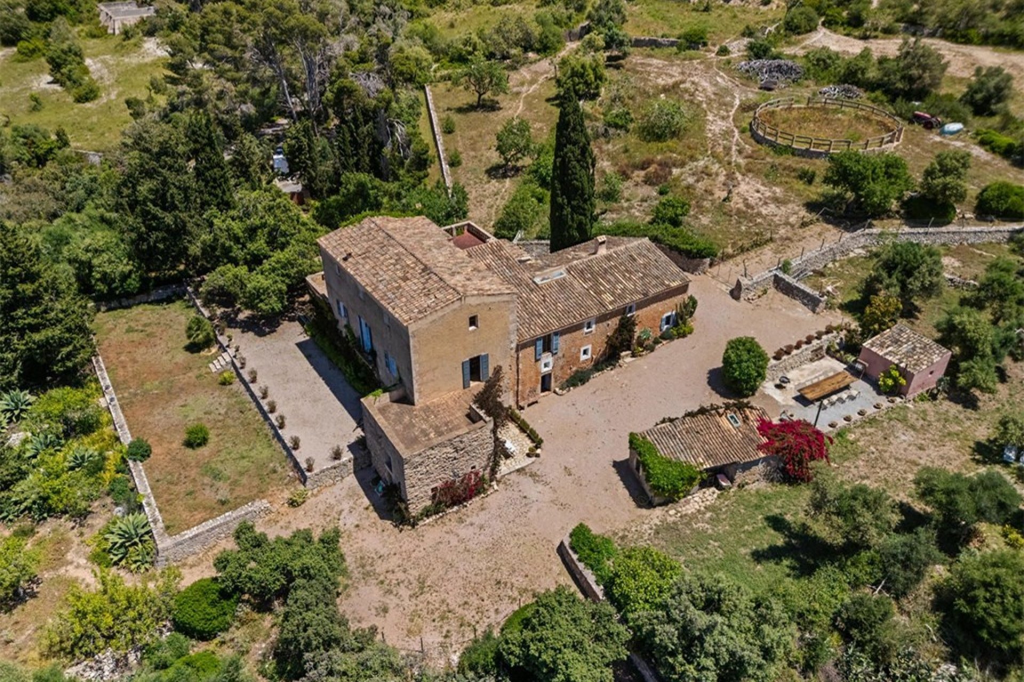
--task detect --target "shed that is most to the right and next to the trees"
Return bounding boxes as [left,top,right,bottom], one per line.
[847,321,953,399]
